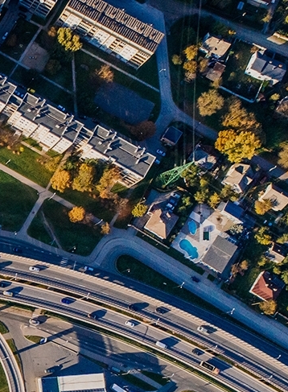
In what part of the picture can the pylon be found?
center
